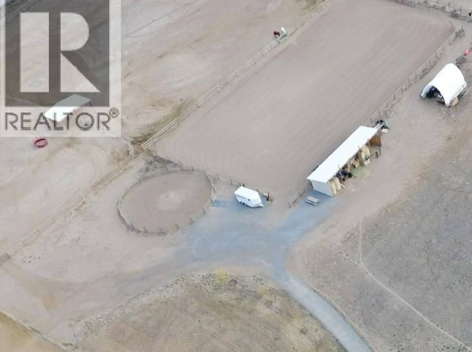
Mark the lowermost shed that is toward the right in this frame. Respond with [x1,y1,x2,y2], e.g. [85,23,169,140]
[307,125,380,197]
